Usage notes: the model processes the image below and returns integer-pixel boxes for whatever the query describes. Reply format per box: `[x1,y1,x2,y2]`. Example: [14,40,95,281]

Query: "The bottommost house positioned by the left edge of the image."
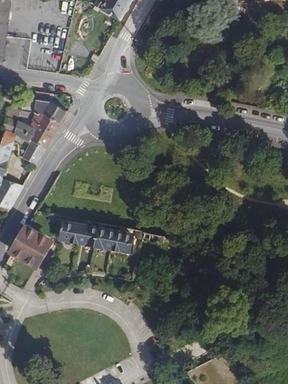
[7,224,54,271]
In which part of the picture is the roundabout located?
top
